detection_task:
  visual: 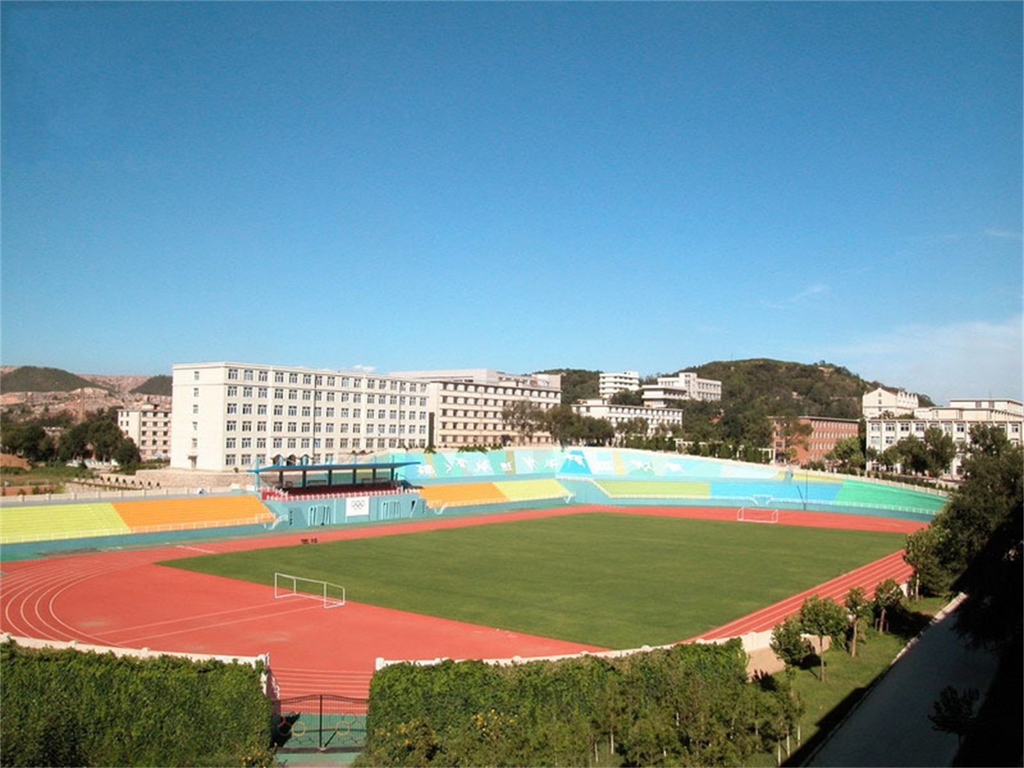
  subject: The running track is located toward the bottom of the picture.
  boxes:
[0,505,948,715]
